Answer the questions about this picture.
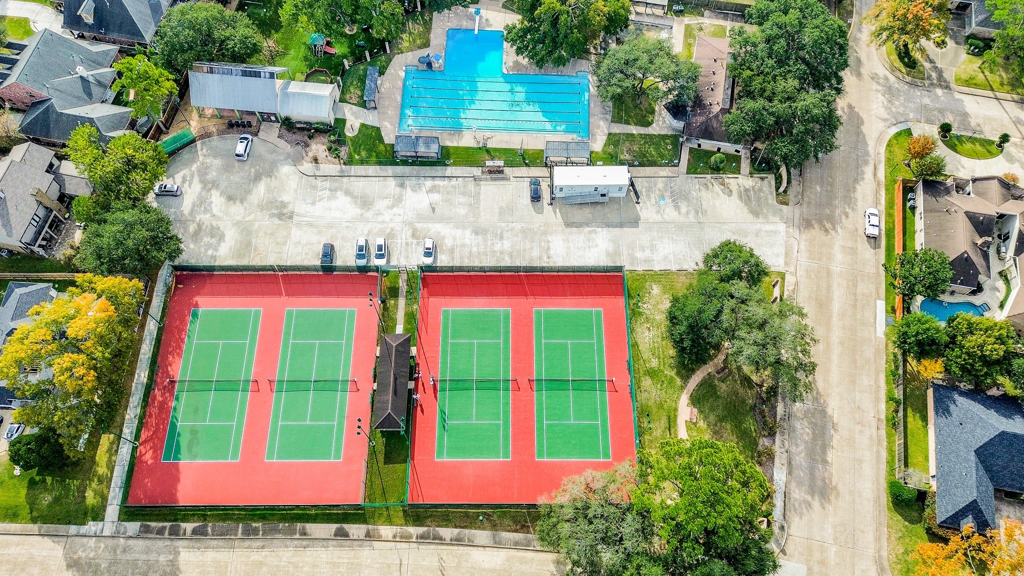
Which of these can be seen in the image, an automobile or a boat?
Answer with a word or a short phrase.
automobile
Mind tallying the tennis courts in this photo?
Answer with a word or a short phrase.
four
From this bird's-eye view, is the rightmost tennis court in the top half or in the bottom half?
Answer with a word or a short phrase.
bottom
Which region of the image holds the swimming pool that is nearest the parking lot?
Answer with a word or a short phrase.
top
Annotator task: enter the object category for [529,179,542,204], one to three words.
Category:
vehicle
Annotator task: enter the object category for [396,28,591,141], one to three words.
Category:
swimming pool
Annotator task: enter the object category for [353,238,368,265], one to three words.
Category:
car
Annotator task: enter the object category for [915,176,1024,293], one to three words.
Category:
house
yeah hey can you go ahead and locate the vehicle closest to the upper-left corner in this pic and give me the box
[152,183,182,198]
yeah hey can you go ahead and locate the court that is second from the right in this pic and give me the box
[409,273,523,501]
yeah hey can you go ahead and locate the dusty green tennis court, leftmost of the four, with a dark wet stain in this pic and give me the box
[127,272,277,503]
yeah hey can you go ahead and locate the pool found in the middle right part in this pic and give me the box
[918,296,993,322]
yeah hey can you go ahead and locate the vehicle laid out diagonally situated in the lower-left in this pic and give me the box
[0,417,24,447]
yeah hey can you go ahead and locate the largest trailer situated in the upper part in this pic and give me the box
[553,166,628,206]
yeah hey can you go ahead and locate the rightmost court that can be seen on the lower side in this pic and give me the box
[522,273,638,501]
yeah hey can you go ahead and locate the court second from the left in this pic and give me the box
[248,273,378,502]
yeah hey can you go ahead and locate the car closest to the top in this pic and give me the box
[234,136,251,161]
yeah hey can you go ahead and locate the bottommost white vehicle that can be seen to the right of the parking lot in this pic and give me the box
[865,208,882,239]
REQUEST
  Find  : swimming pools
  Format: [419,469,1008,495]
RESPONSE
[396,28,591,141]
[918,296,993,322]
